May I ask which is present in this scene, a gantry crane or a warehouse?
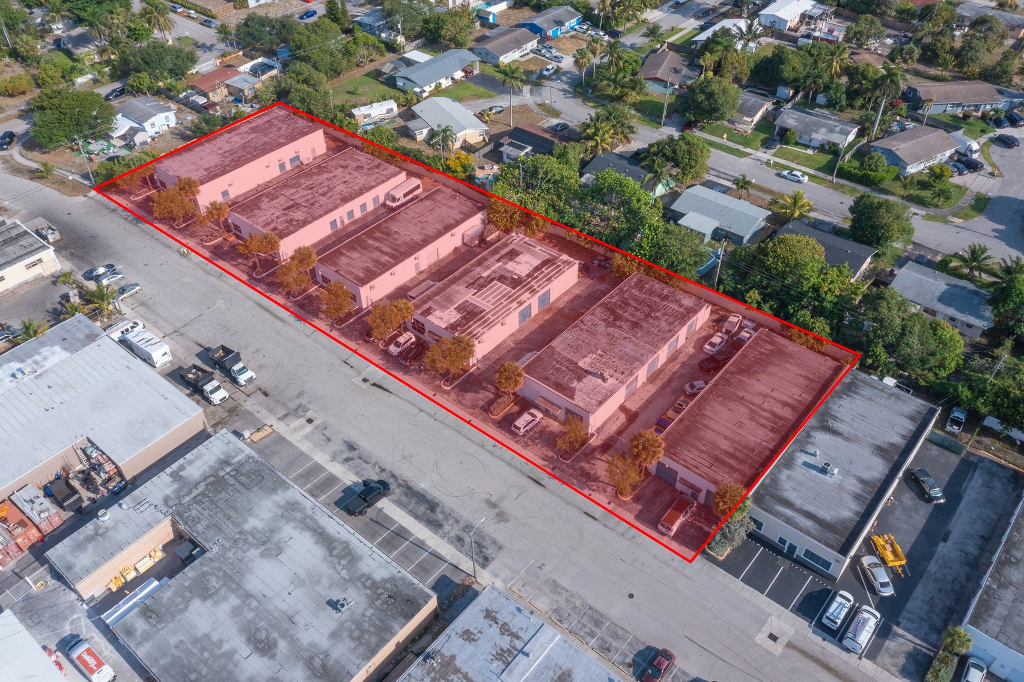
warehouse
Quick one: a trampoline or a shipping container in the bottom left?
shipping container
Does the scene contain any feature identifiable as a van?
Yes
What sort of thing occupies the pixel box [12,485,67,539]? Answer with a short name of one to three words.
shipping container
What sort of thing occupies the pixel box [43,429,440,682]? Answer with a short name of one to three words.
building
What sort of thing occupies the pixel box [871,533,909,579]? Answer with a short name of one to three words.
trailer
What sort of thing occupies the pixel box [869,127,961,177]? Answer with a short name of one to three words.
house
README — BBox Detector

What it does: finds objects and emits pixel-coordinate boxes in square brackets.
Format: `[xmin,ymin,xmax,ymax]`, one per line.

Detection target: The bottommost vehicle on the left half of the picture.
[65,632,114,682]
